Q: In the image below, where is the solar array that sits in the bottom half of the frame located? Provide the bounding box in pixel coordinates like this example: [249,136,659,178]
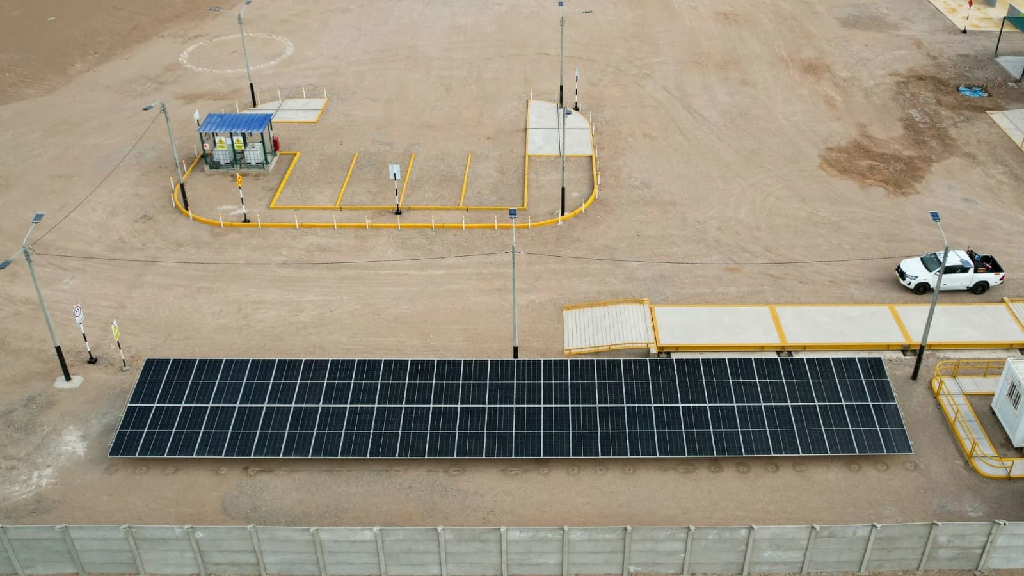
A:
[110,358,913,457]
